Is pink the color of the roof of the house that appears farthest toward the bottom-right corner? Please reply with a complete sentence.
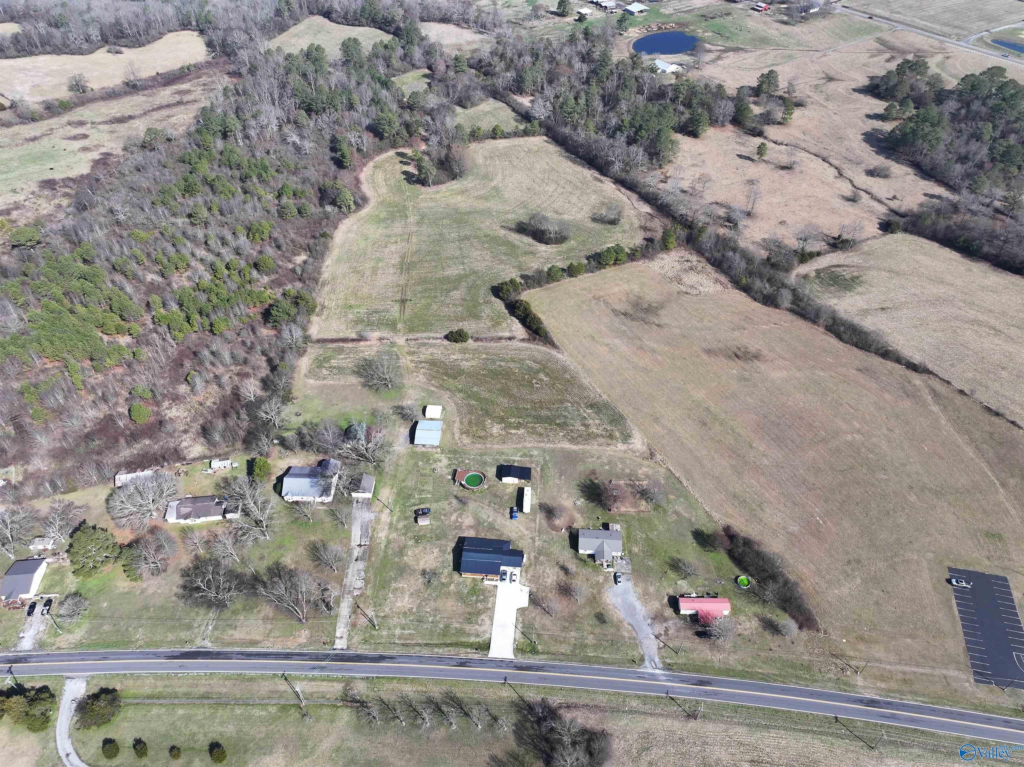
Yes, pink is the color of the roof of the house that appears farthest toward the bottom-right corner.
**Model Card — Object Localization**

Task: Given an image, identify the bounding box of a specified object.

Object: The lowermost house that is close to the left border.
[0,558,53,610]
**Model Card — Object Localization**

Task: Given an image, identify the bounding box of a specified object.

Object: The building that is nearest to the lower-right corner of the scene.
[678,597,731,628]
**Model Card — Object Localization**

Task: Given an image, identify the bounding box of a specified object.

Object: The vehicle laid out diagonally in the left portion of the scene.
[37,598,55,615]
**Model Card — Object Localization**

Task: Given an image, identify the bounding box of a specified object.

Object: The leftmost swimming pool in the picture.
[456,468,487,492]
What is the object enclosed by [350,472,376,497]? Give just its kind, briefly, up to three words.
building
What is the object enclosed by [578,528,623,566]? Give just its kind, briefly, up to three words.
house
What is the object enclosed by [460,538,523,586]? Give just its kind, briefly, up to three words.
house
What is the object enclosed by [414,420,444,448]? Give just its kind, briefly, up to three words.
barn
